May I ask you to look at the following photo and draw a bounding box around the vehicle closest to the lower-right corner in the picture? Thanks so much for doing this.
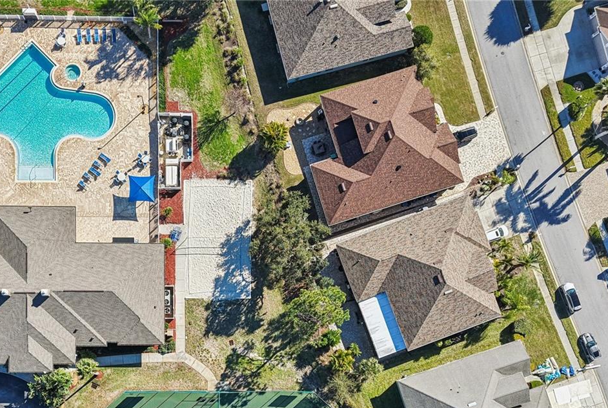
[576,331,601,362]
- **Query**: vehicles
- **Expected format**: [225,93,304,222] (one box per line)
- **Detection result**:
[576,331,601,362]
[556,283,583,315]
[485,224,510,241]
[453,125,480,143]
